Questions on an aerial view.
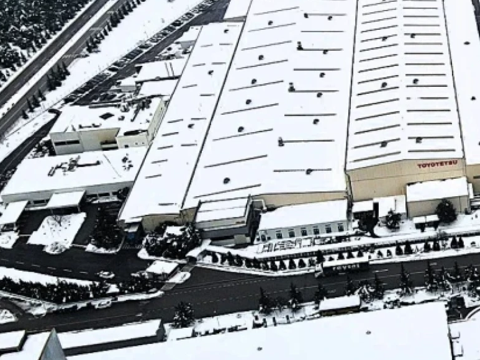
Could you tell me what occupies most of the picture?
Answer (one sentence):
The bulk of the photo consists of buildings.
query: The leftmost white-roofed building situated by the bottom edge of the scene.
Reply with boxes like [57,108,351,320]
[0,329,27,360]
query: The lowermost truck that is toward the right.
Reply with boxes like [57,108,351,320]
[316,256,370,280]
